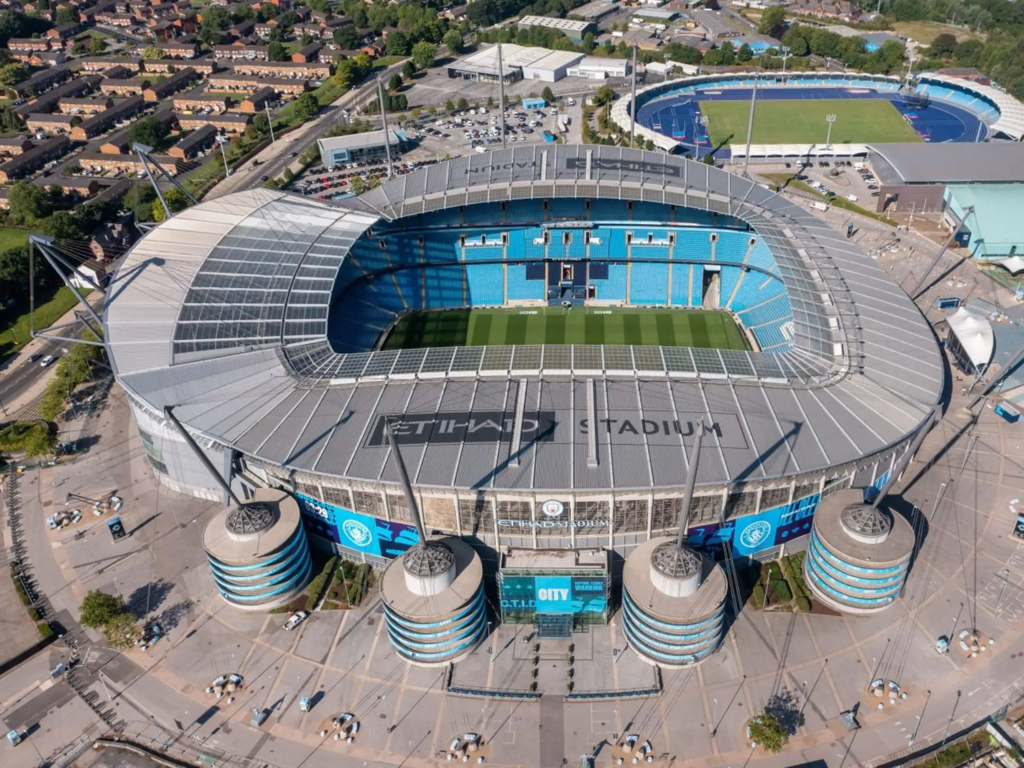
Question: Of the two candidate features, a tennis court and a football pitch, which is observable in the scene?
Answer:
football pitch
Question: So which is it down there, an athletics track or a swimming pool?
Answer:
athletics track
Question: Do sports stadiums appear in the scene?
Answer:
Yes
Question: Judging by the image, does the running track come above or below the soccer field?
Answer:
above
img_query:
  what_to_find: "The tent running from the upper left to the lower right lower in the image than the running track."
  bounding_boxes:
[936,307,1016,391]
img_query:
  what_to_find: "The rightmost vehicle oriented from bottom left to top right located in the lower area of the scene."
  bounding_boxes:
[282,611,307,628]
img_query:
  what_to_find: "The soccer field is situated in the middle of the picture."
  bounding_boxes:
[369,306,763,380]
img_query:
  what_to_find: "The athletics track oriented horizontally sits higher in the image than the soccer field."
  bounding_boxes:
[632,93,991,157]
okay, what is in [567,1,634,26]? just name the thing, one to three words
building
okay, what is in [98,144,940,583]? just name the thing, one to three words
stadium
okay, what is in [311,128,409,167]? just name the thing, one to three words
building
